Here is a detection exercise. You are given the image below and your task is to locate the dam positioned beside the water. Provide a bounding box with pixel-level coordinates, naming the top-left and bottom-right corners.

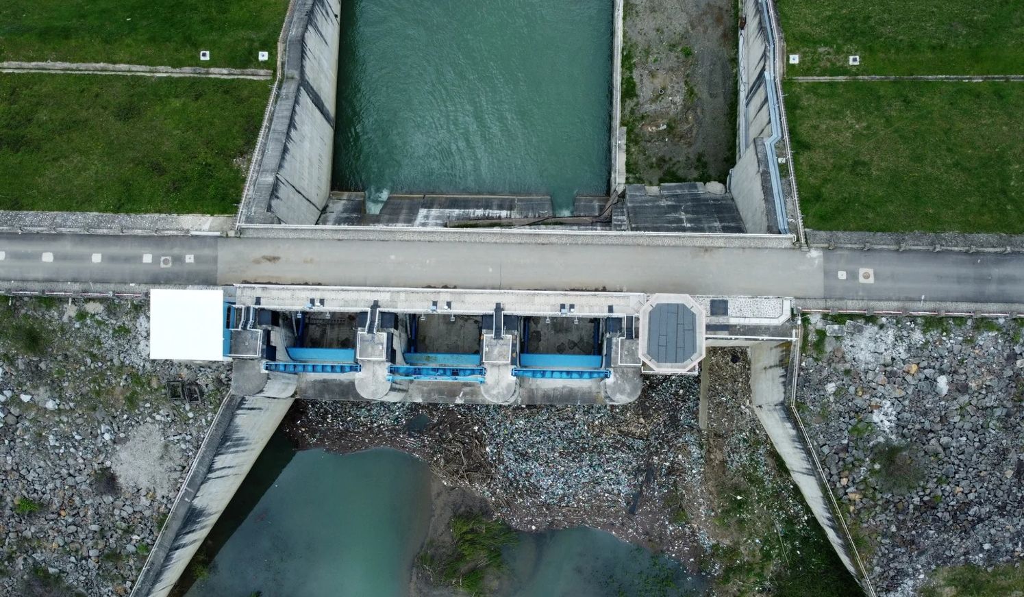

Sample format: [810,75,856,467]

[229,0,795,429]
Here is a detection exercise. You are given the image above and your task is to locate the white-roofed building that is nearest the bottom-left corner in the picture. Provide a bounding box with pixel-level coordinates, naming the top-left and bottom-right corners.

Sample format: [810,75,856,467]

[151,286,242,362]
